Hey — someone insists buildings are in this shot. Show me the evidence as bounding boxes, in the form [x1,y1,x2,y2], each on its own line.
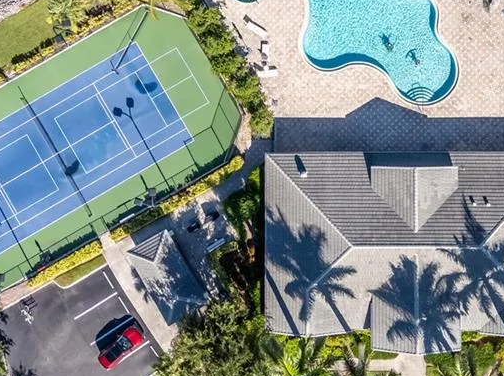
[126,229,210,324]
[264,152,504,358]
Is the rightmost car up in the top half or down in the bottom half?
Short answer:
bottom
